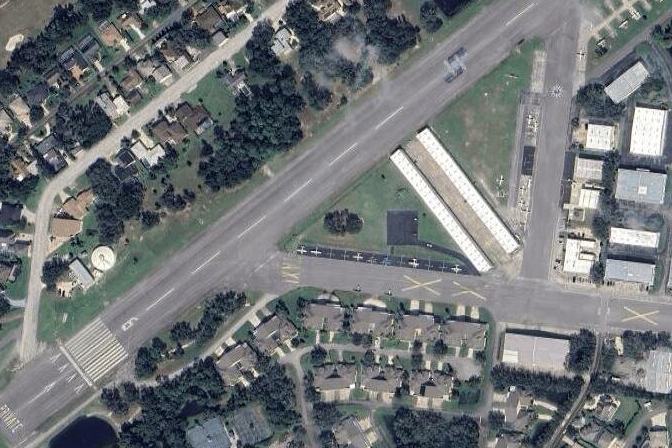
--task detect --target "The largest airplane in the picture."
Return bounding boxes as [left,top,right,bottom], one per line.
[442,45,469,85]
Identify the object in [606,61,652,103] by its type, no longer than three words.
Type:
hangar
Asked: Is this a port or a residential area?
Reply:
residential area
